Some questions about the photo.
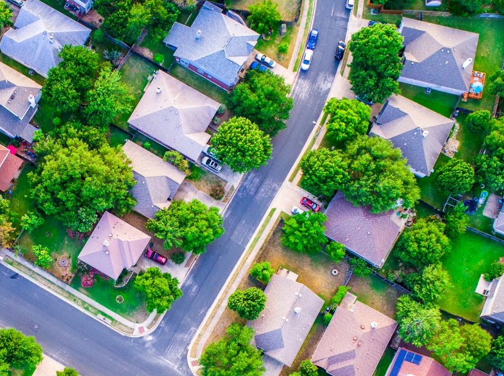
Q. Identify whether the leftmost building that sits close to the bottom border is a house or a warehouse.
house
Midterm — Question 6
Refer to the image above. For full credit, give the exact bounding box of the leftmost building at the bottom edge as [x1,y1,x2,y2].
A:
[248,275,325,368]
